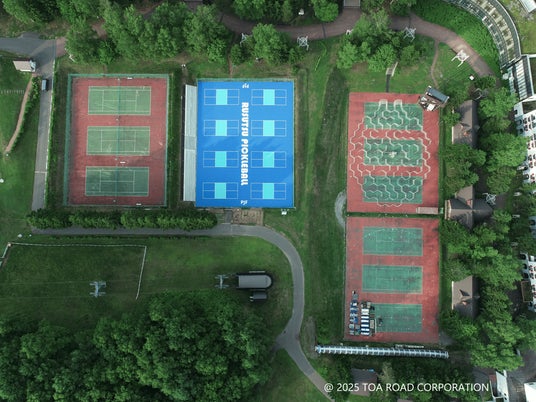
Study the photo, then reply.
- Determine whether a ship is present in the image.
No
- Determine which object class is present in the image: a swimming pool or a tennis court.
tennis court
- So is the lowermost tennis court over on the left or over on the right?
right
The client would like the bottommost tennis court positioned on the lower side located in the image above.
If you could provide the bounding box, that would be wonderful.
[345,299,439,341]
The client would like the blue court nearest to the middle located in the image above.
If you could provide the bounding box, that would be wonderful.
[251,183,286,199]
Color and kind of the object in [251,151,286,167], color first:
blue sports court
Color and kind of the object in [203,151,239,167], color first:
blue sports court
